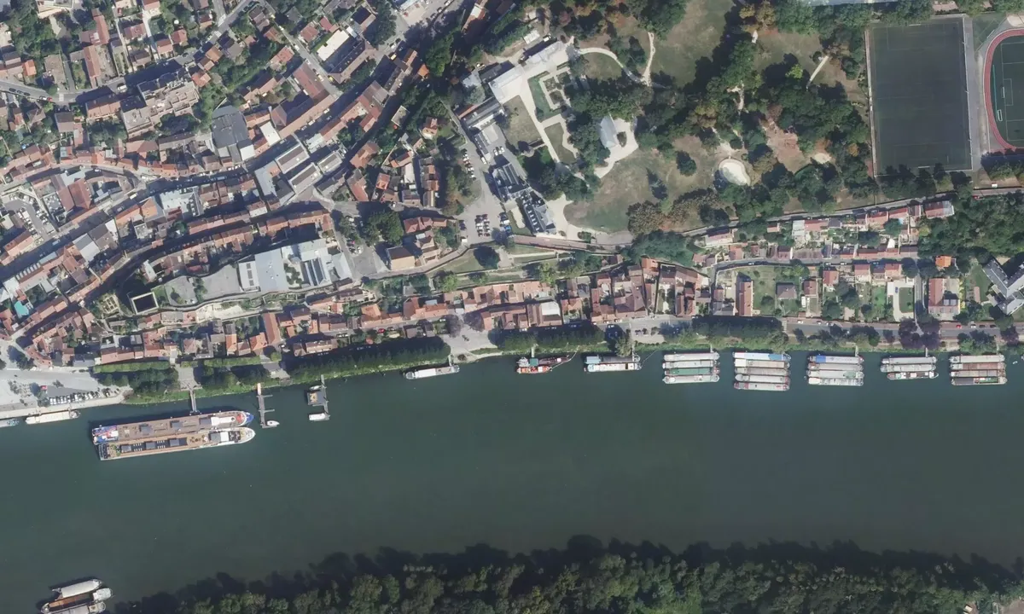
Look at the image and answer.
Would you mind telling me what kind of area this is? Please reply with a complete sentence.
The area seen from above is a residential area.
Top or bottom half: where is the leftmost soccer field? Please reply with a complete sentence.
The leftmost soccer field is in the top half of the image.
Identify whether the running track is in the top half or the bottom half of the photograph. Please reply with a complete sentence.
Seen from above, the running track lies in the top half of the view.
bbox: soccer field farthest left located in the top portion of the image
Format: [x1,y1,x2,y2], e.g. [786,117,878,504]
[865,17,973,177]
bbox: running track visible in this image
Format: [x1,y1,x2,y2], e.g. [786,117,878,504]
[984,30,1024,151]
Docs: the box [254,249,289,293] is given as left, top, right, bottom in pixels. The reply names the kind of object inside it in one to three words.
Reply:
building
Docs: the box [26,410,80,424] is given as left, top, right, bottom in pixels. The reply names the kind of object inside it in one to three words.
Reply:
ship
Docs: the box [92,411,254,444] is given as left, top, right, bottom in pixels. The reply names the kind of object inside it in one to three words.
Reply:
ship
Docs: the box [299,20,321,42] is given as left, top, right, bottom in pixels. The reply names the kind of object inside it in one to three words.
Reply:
house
